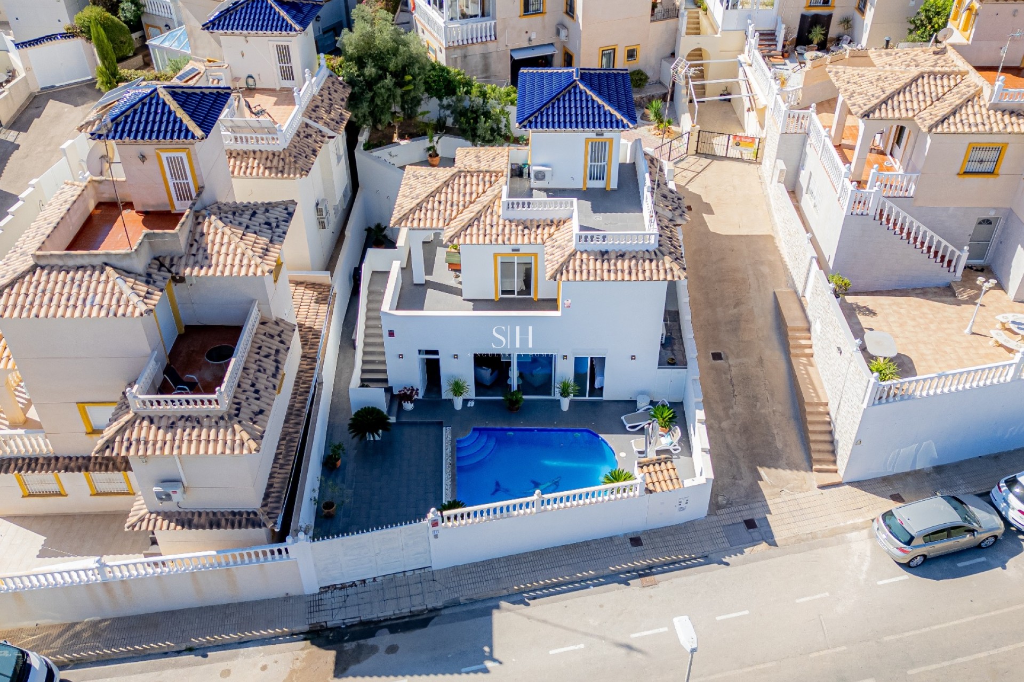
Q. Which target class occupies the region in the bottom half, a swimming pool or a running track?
swimming pool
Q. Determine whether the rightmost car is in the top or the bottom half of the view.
bottom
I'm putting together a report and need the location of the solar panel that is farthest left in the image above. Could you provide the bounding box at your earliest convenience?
[83,78,145,125]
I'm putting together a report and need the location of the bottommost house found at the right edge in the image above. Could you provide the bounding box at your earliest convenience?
[781,45,1024,289]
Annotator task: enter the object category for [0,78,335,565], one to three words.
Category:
house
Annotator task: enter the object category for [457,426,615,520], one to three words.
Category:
swimming pool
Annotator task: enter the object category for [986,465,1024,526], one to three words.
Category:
car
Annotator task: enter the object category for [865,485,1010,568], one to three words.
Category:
car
